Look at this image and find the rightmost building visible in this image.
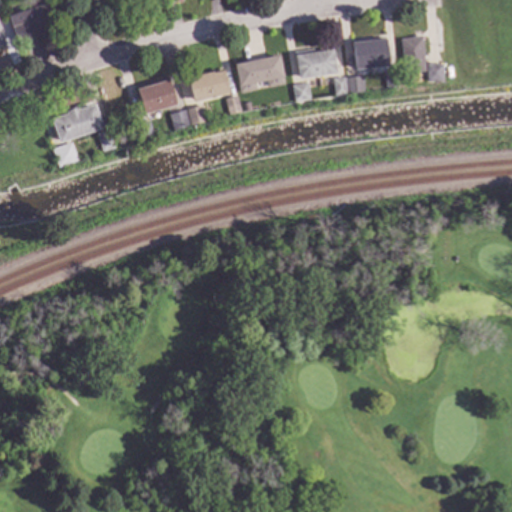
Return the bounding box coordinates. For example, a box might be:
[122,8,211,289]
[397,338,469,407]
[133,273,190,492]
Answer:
[428,62,447,84]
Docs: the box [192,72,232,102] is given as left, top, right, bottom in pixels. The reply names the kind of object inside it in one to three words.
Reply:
house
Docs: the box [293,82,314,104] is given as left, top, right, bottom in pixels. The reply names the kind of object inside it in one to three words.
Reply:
building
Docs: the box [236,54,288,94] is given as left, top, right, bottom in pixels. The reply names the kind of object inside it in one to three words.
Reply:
house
